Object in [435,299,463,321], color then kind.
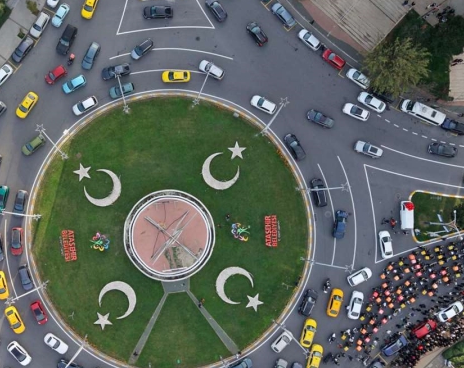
white car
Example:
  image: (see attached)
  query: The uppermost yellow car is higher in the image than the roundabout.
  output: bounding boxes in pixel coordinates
[83,0,99,21]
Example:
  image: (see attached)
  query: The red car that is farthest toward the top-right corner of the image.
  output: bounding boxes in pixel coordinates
[320,48,346,71]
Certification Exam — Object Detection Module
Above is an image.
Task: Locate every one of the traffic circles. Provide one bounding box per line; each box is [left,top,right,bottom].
[30,93,310,368]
